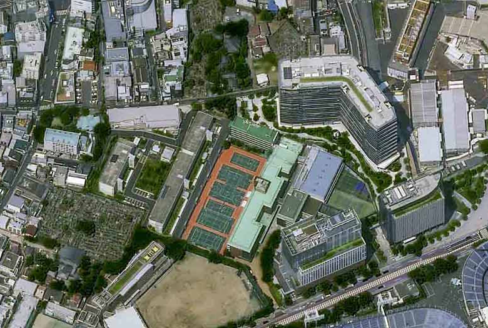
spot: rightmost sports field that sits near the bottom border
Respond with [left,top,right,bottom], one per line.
[138,253,265,328]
